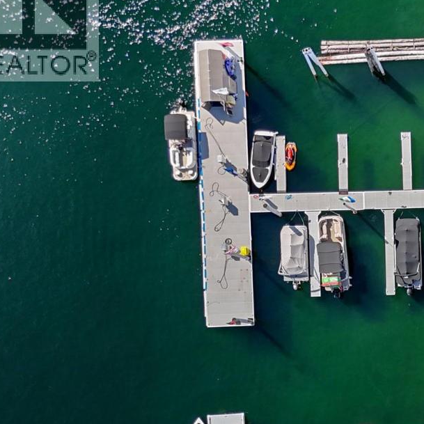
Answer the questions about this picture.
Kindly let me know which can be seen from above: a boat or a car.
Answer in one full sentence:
I can see a boat in this picture.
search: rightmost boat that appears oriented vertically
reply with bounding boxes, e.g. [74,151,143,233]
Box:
[395,209,424,297]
